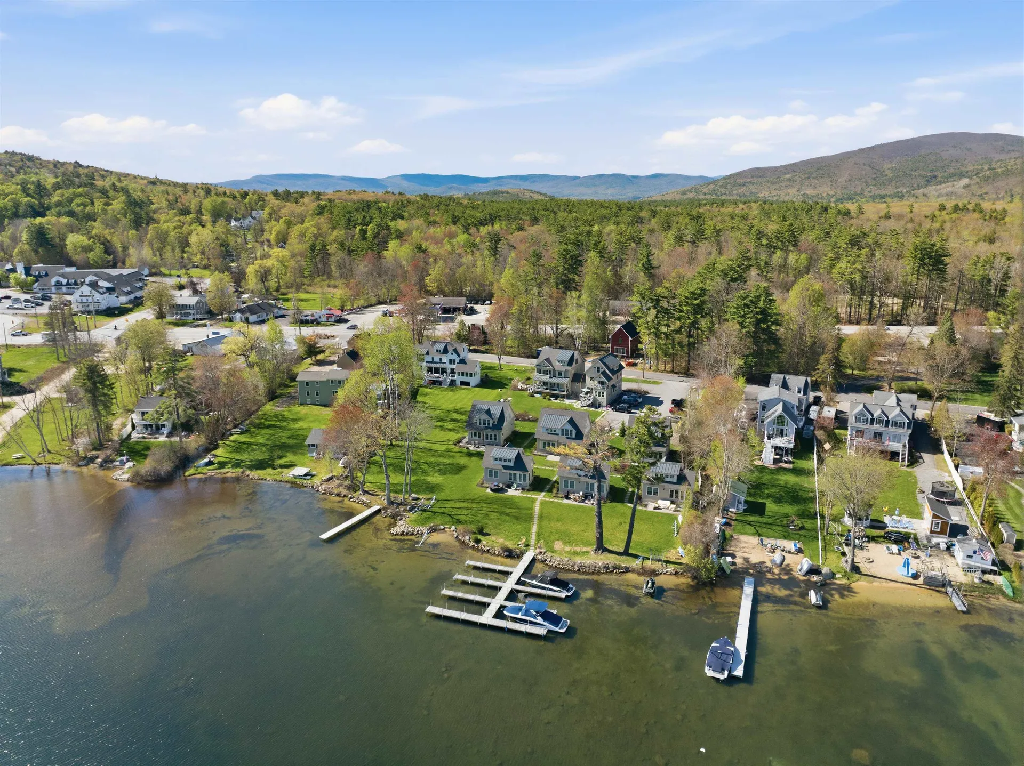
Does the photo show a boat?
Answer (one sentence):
Yes, looking at the shot, I can spot a boat.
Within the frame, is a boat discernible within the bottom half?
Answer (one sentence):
Yes, a boat appears within the bottom half.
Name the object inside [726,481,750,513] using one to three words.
shed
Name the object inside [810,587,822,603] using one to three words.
boat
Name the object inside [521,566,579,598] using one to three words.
boat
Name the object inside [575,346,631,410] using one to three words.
house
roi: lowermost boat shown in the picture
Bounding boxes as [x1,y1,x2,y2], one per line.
[705,634,734,687]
